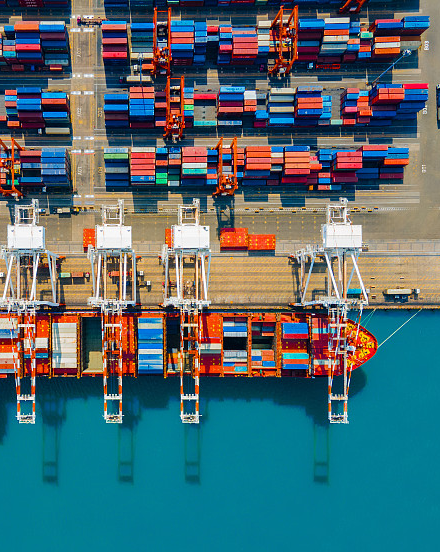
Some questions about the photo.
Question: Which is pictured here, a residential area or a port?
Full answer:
It's a port.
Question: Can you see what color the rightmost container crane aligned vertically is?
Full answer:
The rightmost container crane aligned vertically looks white in the image.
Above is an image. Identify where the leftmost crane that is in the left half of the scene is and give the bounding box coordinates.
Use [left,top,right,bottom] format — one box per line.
[0,135,26,200]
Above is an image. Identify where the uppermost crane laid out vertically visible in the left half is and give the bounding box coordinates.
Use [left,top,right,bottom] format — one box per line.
[148,5,174,78]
